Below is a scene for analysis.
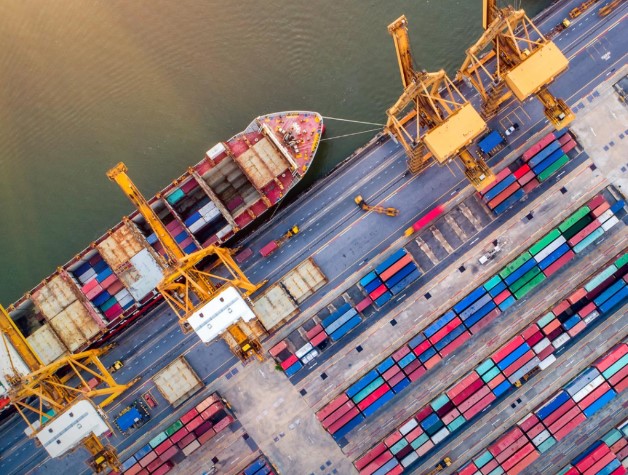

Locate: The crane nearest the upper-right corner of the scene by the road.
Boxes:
[444,0,581,129]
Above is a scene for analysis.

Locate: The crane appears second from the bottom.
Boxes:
[113,164,272,367]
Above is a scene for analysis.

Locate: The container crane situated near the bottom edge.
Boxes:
[0,290,142,475]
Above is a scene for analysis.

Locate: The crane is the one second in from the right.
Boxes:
[373,17,499,192]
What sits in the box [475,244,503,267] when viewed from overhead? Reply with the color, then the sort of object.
white truck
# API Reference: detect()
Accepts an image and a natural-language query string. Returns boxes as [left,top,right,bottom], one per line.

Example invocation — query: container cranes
[113,164,272,367]
[0,290,142,475]
[373,17,499,192]
[444,0,581,129]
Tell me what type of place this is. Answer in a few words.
port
